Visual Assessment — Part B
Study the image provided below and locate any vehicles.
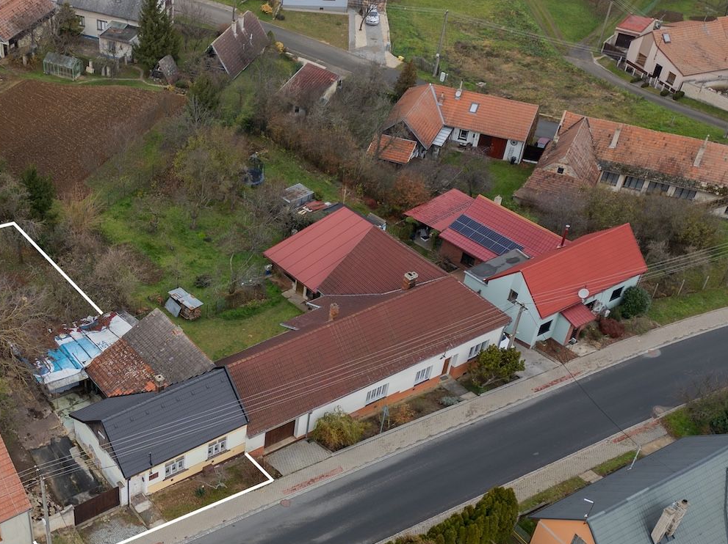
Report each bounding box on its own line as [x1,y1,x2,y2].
[537,130,555,147]
[366,6,381,21]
